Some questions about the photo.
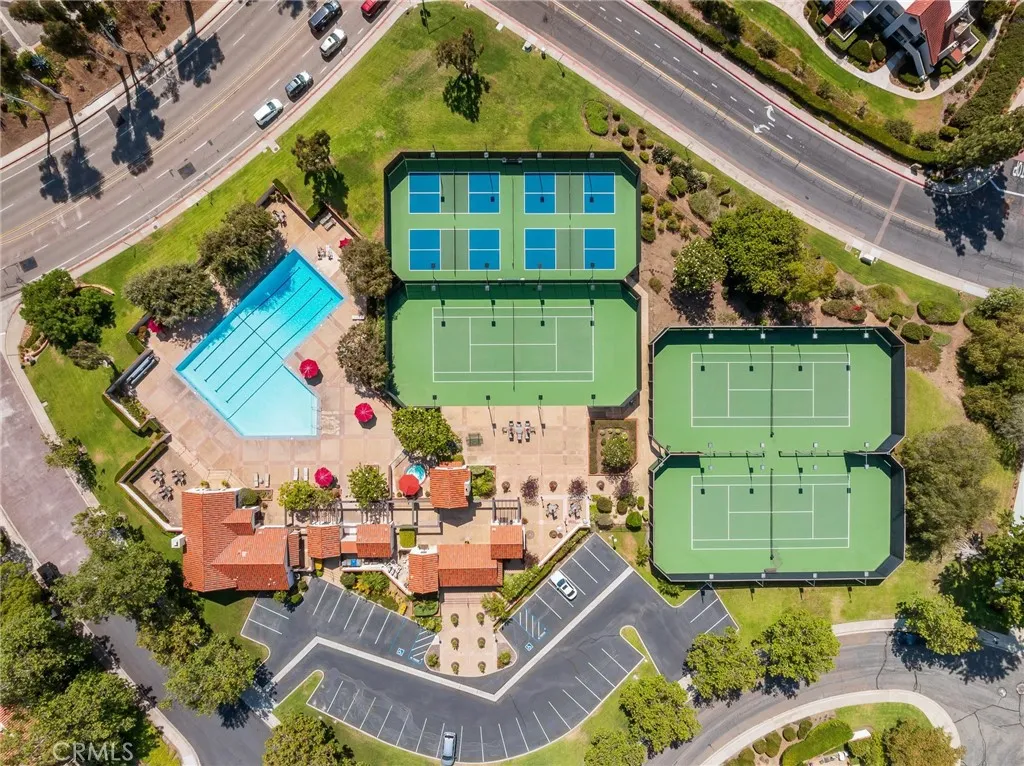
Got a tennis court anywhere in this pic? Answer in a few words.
Yes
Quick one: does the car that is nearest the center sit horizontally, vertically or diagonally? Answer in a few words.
diagonally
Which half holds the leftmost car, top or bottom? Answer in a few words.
bottom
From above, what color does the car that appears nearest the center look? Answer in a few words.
white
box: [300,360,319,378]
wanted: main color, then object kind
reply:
red umbrella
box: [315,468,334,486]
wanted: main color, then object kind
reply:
red umbrella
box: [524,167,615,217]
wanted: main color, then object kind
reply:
blue sports court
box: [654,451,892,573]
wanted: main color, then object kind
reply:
green tennis court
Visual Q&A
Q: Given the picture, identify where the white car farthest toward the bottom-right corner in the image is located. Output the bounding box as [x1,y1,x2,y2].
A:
[550,569,578,601]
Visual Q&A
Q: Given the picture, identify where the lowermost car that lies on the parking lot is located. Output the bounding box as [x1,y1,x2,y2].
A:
[440,729,456,765]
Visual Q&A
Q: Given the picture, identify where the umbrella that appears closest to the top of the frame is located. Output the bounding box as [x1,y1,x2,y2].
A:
[339,234,356,251]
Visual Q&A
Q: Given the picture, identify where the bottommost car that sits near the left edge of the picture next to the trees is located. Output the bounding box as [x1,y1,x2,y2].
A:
[44,560,72,594]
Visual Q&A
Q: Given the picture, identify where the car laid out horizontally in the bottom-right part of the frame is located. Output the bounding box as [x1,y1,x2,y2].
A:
[892,628,925,644]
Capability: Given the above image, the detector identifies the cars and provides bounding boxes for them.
[44,560,72,594]
[892,628,925,644]
[283,72,314,101]
[440,729,456,765]
[308,1,341,34]
[318,28,347,58]
[550,569,578,601]
[252,99,283,127]
[360,0,388,17]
